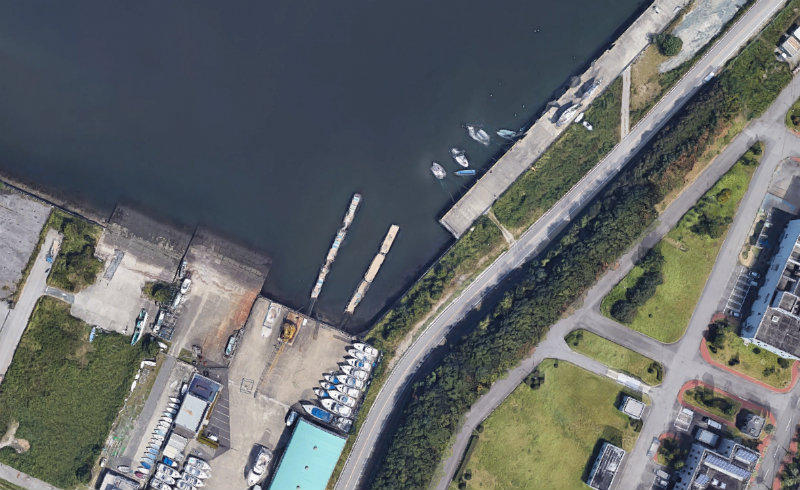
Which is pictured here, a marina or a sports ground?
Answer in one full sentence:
It's a marina.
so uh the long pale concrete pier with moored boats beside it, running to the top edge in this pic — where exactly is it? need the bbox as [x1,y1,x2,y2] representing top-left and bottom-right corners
[440,0,691,238]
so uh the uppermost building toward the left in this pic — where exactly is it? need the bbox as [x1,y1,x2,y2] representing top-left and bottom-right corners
[185,373,227,409]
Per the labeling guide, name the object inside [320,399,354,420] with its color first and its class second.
white boat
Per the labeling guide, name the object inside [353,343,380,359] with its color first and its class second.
white boat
